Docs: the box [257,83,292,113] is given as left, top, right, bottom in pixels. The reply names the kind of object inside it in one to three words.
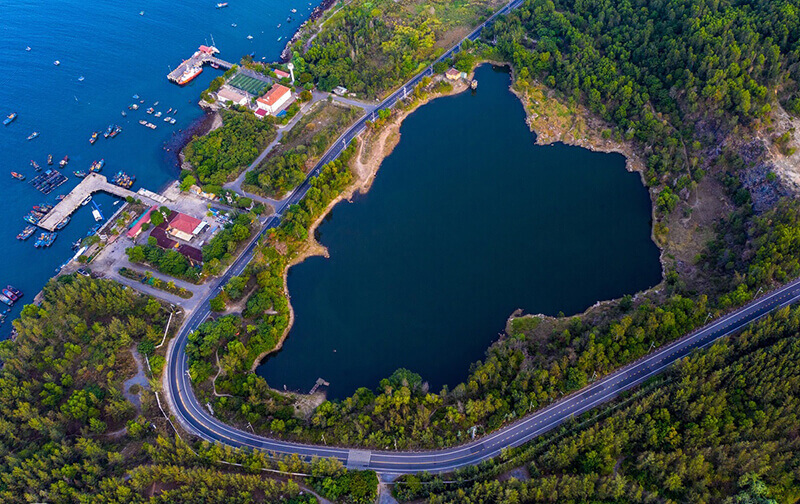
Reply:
building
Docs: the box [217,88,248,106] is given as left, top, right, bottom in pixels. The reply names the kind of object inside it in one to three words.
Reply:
building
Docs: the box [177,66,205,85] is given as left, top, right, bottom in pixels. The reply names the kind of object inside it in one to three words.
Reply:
ship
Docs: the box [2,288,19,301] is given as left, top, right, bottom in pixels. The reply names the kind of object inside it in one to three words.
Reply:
boat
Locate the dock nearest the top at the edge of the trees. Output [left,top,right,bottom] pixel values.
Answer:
[166,51,234,80]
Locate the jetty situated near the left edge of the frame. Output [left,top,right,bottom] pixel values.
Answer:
[37,170,137,231]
